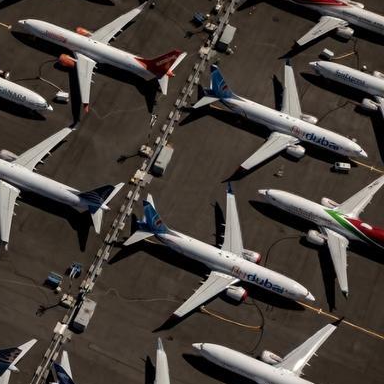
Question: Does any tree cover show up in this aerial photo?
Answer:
No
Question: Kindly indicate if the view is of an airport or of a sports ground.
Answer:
airport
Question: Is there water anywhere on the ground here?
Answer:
No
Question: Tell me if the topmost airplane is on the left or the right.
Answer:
right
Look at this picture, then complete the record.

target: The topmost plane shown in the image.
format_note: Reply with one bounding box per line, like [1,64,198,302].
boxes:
[292,0,384,48]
